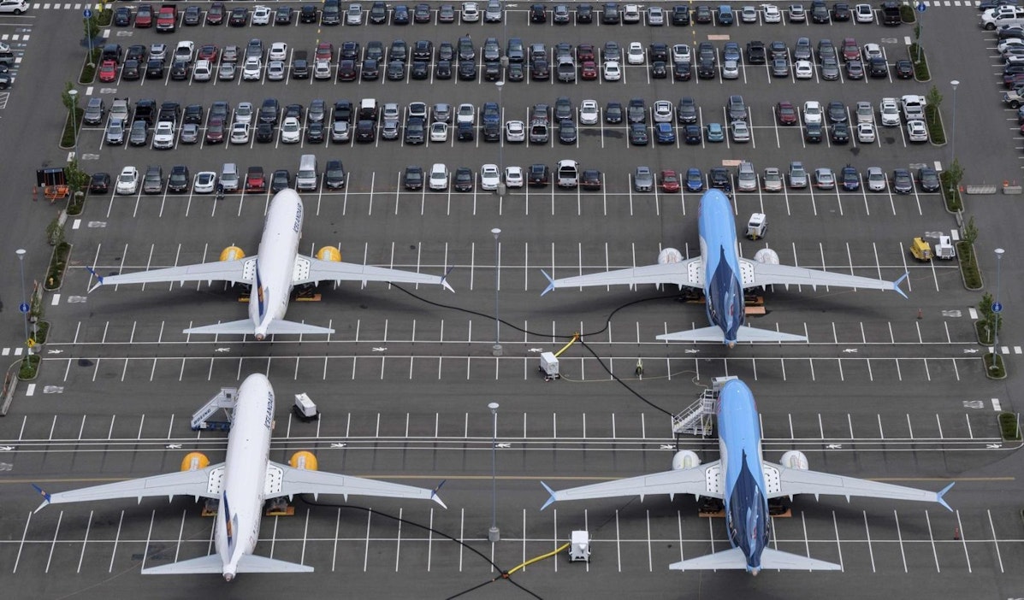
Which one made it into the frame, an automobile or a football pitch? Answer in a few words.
automobile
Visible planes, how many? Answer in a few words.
4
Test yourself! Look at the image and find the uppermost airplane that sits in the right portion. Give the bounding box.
[539,190,910,349]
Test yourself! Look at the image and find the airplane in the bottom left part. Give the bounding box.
[32,373,448,585]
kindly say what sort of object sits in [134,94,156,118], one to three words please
vehicle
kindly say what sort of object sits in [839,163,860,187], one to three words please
car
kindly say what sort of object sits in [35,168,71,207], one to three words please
trailer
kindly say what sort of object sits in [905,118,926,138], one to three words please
car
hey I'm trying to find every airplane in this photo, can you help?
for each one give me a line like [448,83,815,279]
[539,379,956,580]
[539,190,910,349]
[87,188,455,344]
[32,373,448,585]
